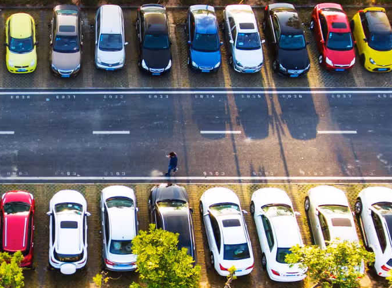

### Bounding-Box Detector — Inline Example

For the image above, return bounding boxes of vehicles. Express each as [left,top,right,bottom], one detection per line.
[349,11,392,74]
[181,5,223,74]
[95,186,139,273]
[47,5,84,78]
[222,4,266,75]
[355,186,392,279]
[308,4,357,73]
[205,187,257,279]
[153,186,201,278]
[44,189,89,273]
[134,10,173,76]
[4,17,38,75]
[305,186,366,282]
[252,188,308,284]
[262,4,310,79]
[0,189,39,272]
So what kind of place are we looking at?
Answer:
parking lot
